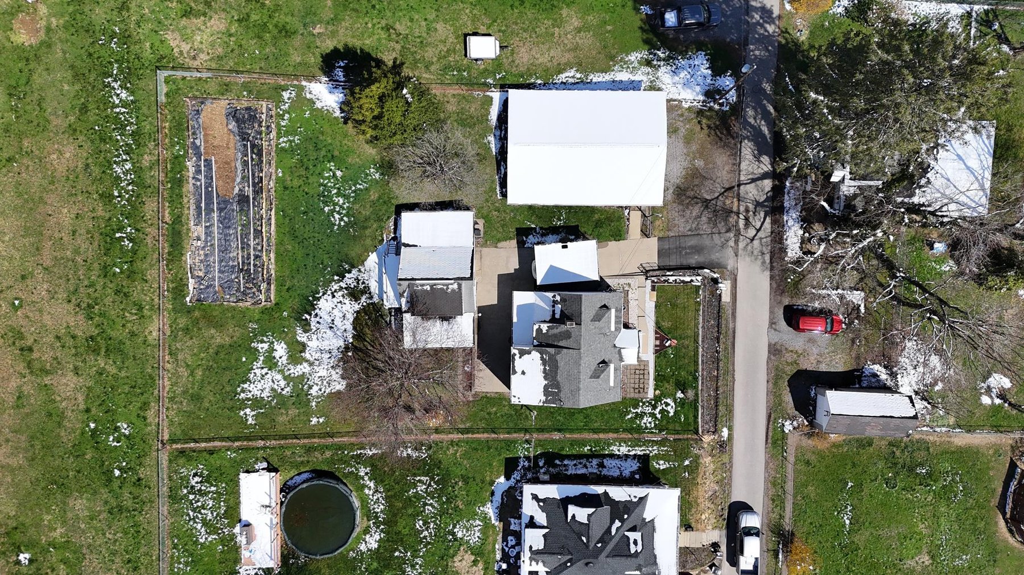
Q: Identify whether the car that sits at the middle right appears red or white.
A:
red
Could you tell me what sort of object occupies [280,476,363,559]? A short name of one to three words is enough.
swimming pool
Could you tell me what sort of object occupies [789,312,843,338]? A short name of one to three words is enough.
car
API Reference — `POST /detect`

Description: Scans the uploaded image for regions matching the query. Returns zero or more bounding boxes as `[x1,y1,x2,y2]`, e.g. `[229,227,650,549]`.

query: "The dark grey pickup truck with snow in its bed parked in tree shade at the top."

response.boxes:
[654,1,722,32]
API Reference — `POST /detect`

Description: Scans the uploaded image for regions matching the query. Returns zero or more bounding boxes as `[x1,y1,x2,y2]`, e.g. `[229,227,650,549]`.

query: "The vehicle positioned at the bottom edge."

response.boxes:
[732,508,762,575]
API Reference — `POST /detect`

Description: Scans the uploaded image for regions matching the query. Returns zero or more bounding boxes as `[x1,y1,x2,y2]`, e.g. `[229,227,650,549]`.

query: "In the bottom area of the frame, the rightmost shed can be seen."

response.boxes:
[806,388,918,438]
